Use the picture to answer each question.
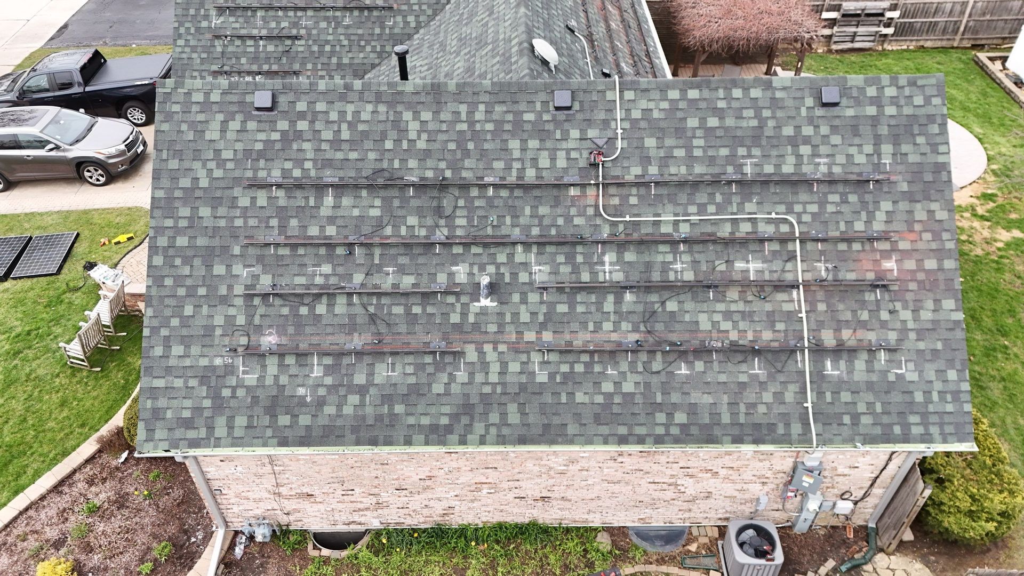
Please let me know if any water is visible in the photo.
No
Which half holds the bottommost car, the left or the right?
left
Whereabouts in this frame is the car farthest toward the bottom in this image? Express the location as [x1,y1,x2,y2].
[0,103,148,190]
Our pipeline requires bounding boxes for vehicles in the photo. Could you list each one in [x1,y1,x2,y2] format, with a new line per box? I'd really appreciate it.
[0,47,172,128]
[0,103,148,190]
